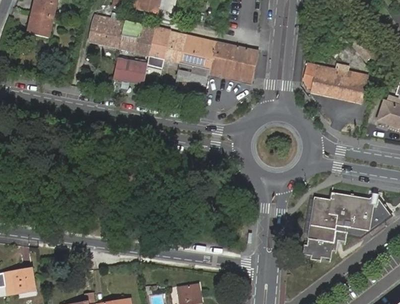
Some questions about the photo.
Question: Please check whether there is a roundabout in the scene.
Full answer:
Yes, the frame does contain a roundabout.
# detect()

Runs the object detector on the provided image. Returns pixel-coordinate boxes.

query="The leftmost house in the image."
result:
[0,267,36,297]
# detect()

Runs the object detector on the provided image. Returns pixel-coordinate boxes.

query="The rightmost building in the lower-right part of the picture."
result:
[303,192,390,262]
